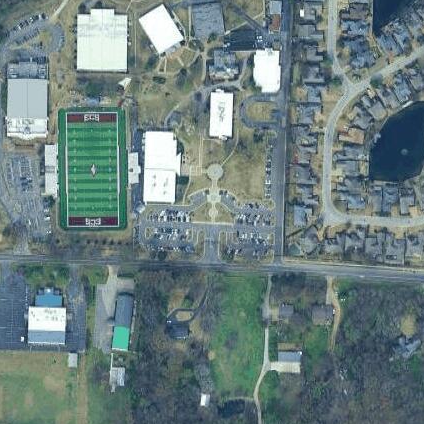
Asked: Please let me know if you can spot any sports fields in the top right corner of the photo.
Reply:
No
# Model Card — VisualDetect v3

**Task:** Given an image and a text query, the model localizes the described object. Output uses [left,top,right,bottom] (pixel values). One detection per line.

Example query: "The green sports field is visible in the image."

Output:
[59,107,126,231]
